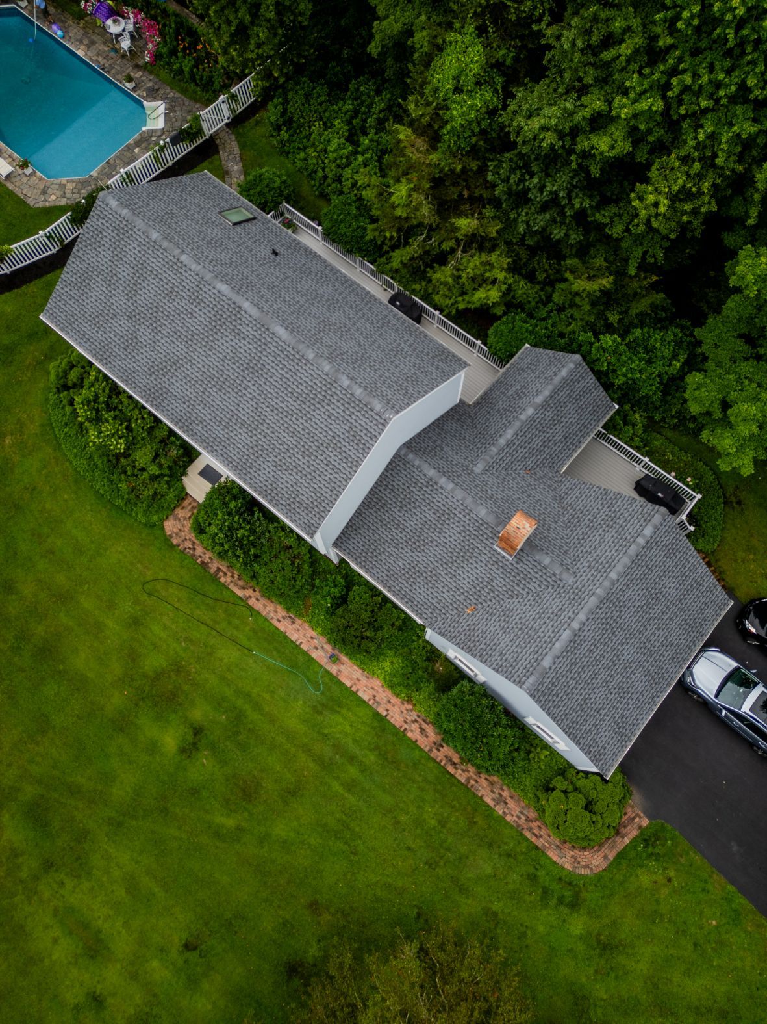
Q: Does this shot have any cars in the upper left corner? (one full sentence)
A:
No, looking in the upper left corner, there is no car.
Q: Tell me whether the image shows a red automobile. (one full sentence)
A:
No, this view has no red automobile in it.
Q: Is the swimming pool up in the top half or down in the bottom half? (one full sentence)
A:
Seen from above, the swimming pool lies in the top half of the view.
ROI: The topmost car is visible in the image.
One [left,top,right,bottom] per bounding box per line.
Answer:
[736,587,767,650]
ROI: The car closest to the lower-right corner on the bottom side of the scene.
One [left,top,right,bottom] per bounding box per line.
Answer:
[683,643,767,761]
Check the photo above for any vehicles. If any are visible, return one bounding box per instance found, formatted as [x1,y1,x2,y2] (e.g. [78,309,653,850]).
[683,643,767,761]
[736,587,767,650]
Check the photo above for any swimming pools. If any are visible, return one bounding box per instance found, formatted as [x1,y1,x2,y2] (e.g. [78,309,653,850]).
[0,5,172,179]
